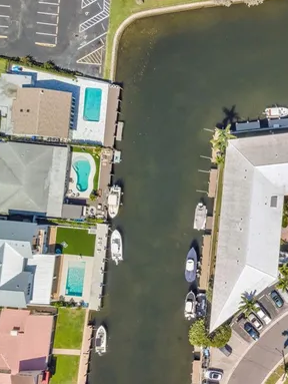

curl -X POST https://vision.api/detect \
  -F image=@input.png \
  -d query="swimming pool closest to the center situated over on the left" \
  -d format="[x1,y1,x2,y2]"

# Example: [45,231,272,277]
[72,159,92,193]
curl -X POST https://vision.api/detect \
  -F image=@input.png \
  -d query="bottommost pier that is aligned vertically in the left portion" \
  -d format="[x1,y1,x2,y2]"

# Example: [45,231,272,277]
[77,325,96,384]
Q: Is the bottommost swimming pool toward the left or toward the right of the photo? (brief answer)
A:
left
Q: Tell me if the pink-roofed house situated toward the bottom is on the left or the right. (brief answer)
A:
left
